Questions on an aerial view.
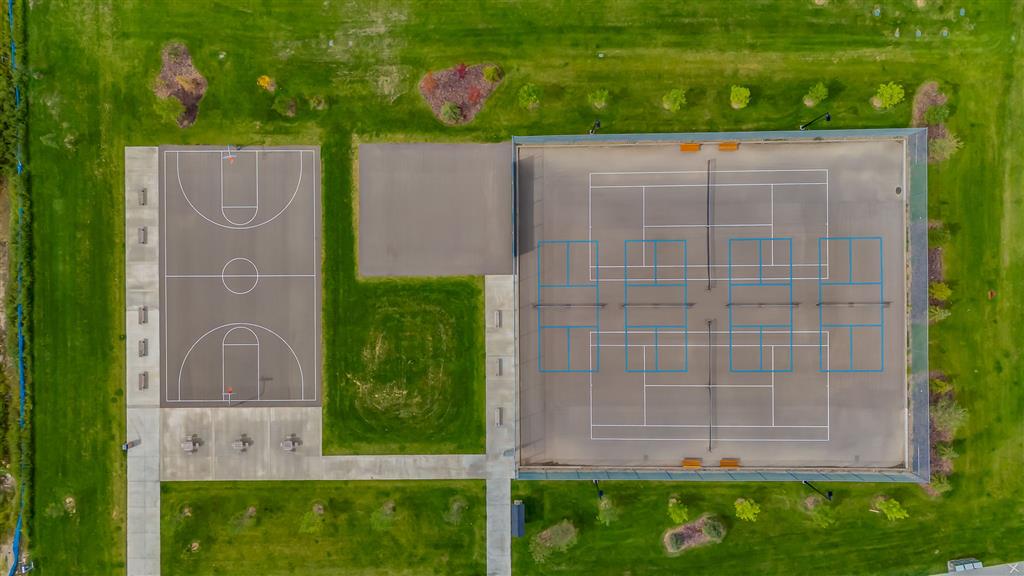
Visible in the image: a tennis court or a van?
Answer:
tennis court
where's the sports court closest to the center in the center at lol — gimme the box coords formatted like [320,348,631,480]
[538,240,600,372]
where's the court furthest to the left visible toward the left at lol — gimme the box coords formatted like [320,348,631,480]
[159,147,322,407]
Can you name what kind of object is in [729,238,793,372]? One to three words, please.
sports court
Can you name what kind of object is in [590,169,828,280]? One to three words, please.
tennis court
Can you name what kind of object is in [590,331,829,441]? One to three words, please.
tennis court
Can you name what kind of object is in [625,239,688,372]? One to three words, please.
sports court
